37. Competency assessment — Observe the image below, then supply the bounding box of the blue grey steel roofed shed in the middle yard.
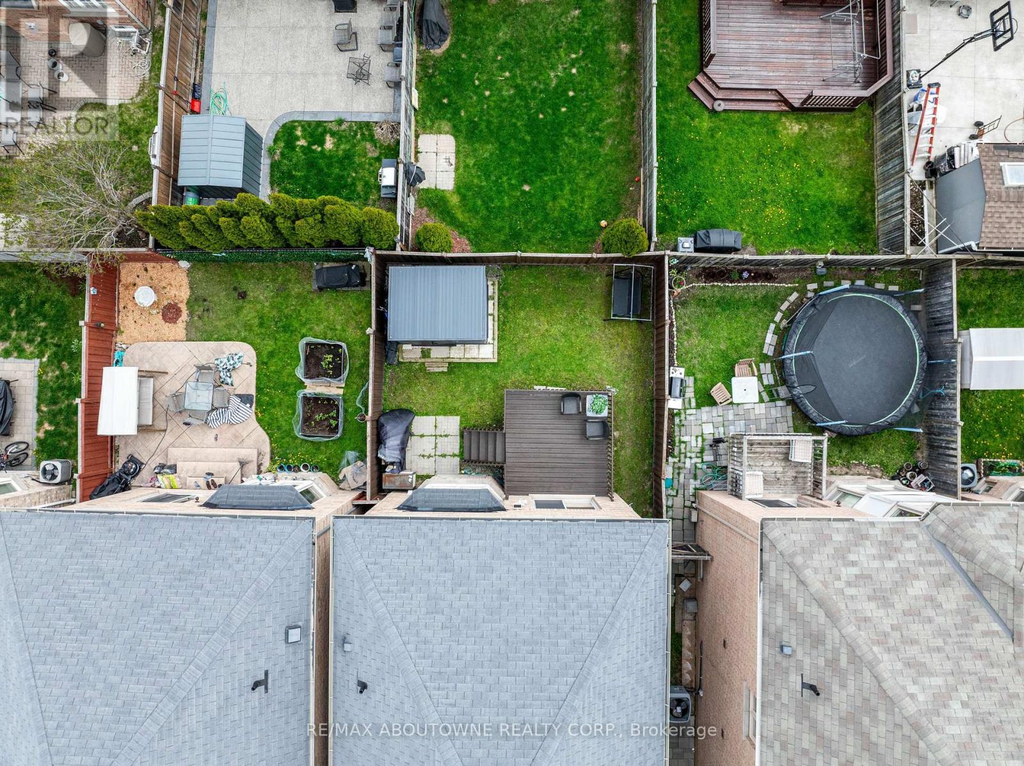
[388,265,489,345]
